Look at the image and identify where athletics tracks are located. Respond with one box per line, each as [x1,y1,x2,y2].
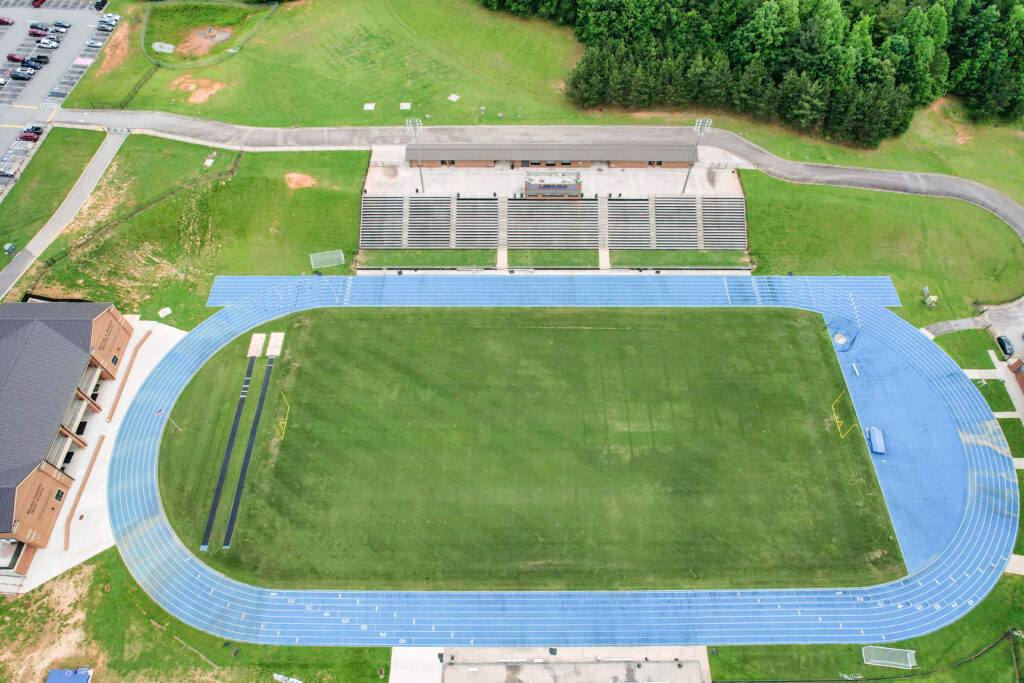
[107,275,1019,647]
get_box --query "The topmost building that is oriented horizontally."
[403,143,701,167]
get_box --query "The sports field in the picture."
[158,307,907,589]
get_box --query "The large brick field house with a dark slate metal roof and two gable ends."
[0,300,133,548]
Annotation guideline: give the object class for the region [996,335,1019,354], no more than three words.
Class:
car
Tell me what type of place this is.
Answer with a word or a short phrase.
sports ground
